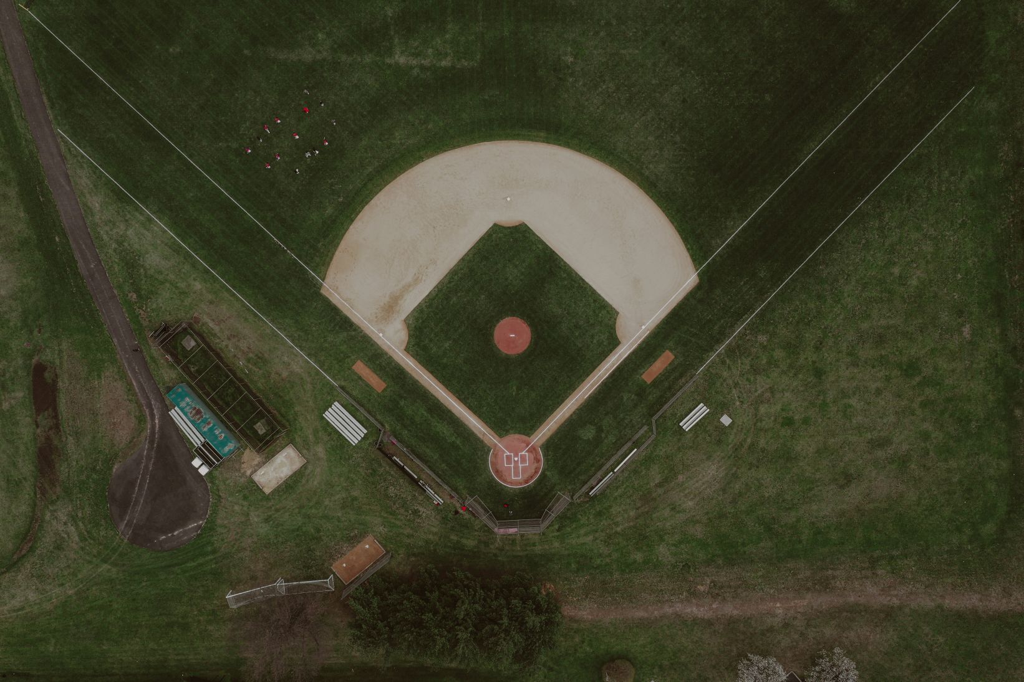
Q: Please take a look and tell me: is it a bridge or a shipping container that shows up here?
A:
shipping container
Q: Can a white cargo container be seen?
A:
No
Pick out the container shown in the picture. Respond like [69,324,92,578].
[168,383,241,457]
